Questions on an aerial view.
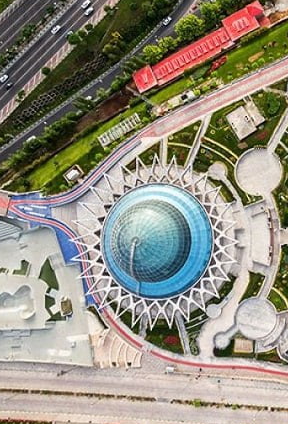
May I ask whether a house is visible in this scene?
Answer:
Yes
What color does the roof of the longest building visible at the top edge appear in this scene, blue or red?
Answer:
red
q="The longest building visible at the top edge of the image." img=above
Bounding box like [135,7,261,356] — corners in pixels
[137,2,273,95]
